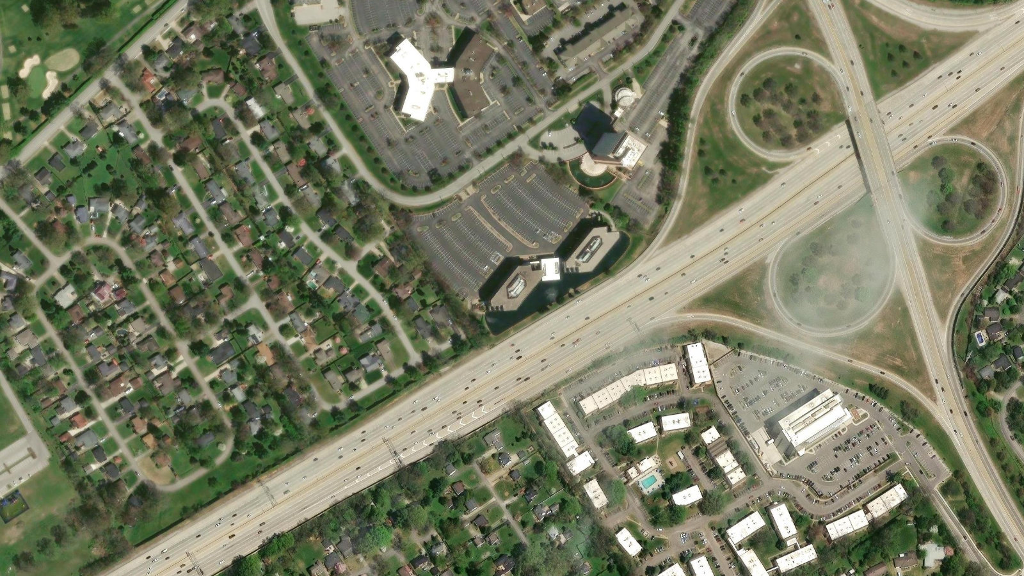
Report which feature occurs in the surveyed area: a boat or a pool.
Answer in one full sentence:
This aerial view contains a pool.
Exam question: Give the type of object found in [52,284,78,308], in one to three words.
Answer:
house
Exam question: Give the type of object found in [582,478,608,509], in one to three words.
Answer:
building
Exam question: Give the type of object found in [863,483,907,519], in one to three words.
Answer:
building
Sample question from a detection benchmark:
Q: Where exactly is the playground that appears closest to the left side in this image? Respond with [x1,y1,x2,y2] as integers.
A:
[0,490,29,524]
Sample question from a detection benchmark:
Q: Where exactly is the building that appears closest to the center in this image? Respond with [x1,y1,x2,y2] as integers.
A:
[485,266,542,313]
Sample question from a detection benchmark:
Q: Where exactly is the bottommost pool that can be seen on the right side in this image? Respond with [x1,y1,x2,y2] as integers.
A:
[636,467,664,493]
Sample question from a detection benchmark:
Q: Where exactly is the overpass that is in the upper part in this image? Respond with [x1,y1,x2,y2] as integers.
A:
[842,92,906,210]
